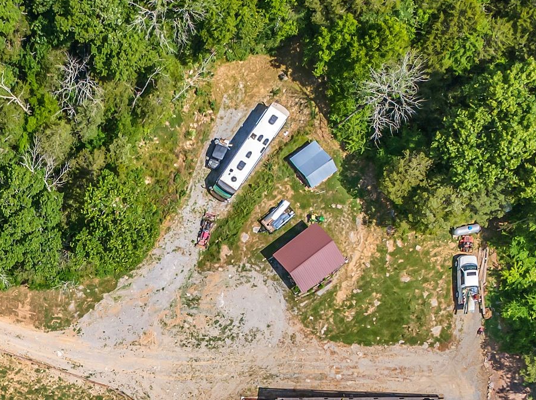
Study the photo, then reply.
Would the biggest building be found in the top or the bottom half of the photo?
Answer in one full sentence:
The biggest building sits in the bottom half of the picture.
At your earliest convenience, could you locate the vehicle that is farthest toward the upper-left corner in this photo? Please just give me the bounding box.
[203,140,230,171]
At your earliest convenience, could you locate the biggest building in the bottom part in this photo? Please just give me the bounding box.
[268,223,345,307]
